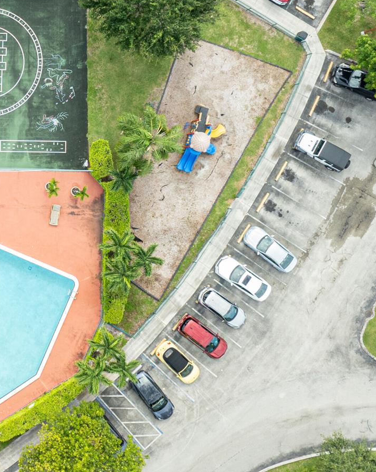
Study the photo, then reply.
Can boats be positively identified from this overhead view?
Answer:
No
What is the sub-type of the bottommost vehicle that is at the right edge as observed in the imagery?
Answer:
automobile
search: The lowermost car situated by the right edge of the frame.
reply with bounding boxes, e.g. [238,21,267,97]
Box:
[290,126,358,175]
